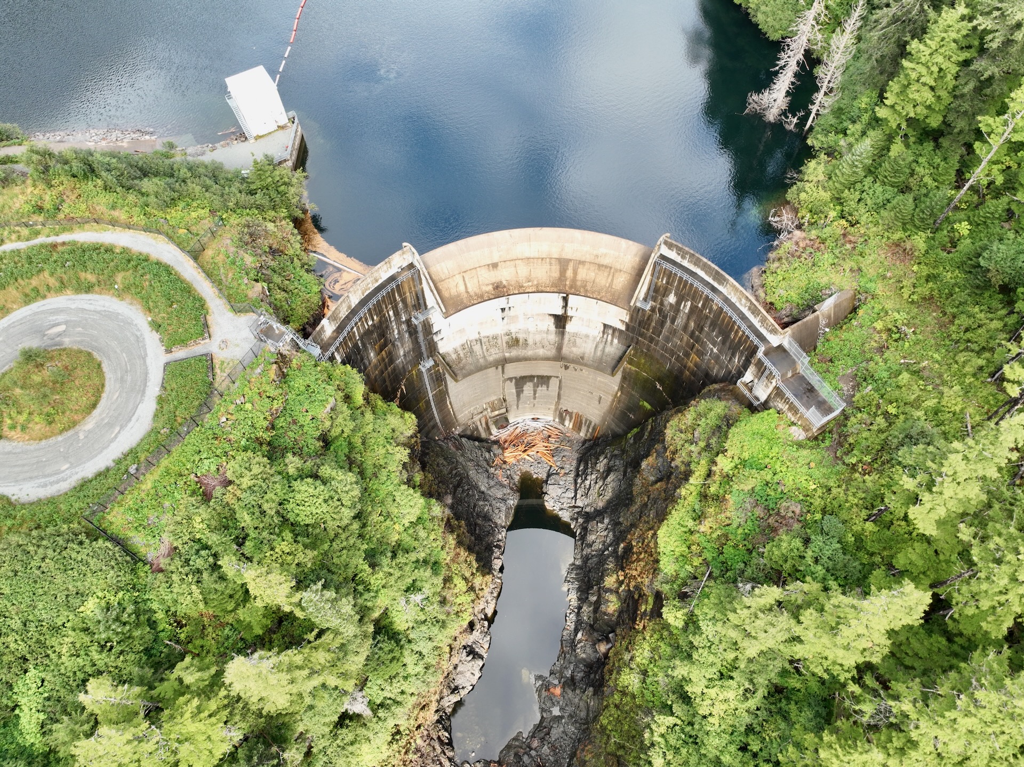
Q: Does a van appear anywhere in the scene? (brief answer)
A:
No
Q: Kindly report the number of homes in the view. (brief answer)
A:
1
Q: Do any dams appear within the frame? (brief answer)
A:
Yes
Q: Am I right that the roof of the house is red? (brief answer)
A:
No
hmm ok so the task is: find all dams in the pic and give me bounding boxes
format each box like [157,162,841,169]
[303,230,786,448]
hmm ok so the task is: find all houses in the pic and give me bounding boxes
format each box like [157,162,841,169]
[225,68,291,141]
